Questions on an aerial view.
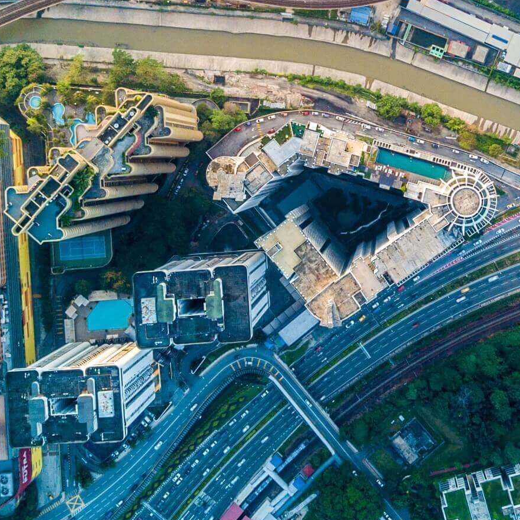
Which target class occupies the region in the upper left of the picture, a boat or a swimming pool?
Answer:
swimming pool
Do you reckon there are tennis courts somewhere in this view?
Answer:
Yes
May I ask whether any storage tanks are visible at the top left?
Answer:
No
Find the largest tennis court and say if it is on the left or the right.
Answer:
left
